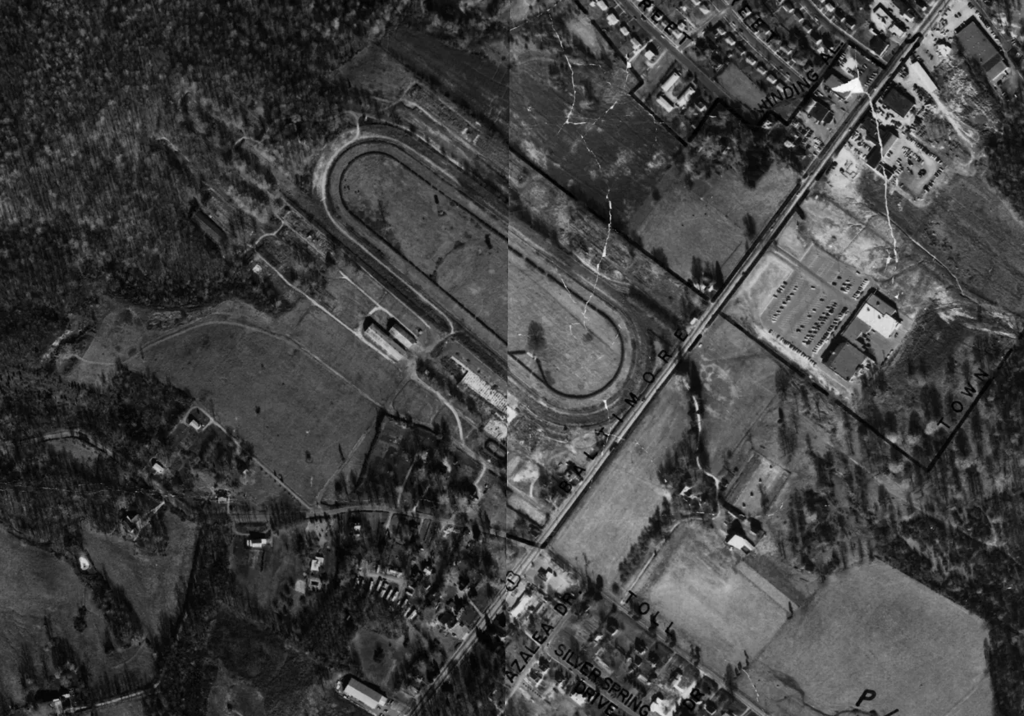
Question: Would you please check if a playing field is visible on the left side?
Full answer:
No, I see no playing field on the left side.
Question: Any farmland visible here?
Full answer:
Yes, the picture does contain farmland.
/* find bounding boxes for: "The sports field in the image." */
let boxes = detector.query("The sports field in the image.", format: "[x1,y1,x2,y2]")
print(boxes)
[719,65,767,110]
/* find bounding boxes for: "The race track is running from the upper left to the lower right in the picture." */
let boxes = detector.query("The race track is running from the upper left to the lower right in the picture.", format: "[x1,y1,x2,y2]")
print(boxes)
[313,126,640,427]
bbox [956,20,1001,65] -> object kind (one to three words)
building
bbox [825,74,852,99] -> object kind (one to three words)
building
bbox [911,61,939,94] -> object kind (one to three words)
shed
